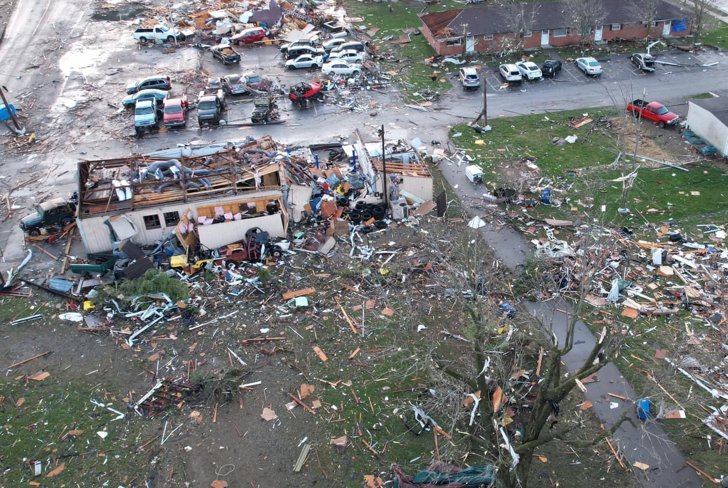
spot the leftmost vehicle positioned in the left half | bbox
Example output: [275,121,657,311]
[22,190,76,230]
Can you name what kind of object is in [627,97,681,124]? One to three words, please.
truck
